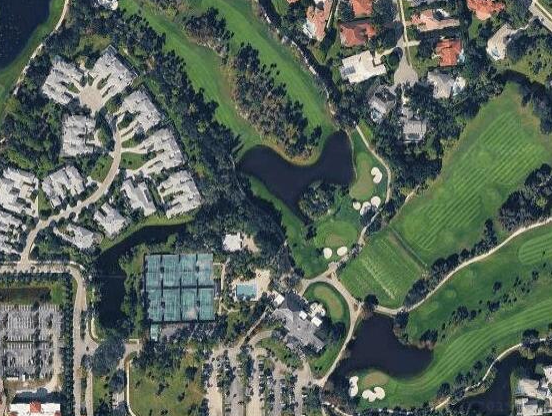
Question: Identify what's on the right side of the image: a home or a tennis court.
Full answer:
There is a home on the right side of the image.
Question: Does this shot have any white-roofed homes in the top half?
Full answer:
Yes, a white-roofed home is visible in the top half.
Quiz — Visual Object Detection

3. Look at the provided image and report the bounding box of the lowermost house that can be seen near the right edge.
[519,395,544,414]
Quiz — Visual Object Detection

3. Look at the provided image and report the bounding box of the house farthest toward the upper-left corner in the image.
[37,57,87,104]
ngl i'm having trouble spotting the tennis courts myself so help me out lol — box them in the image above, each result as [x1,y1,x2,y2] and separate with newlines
[180,253,197,287]
[199,288,217,321]
[147,288,165,321]
[144,253,162,287]
[164,288,183,321]
[161,253,180,287]
[196,253,215,287]
[182,288,199,321]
